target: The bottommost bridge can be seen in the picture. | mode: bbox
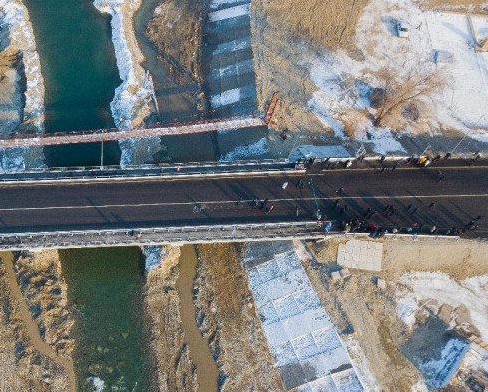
[0,160,332,252]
